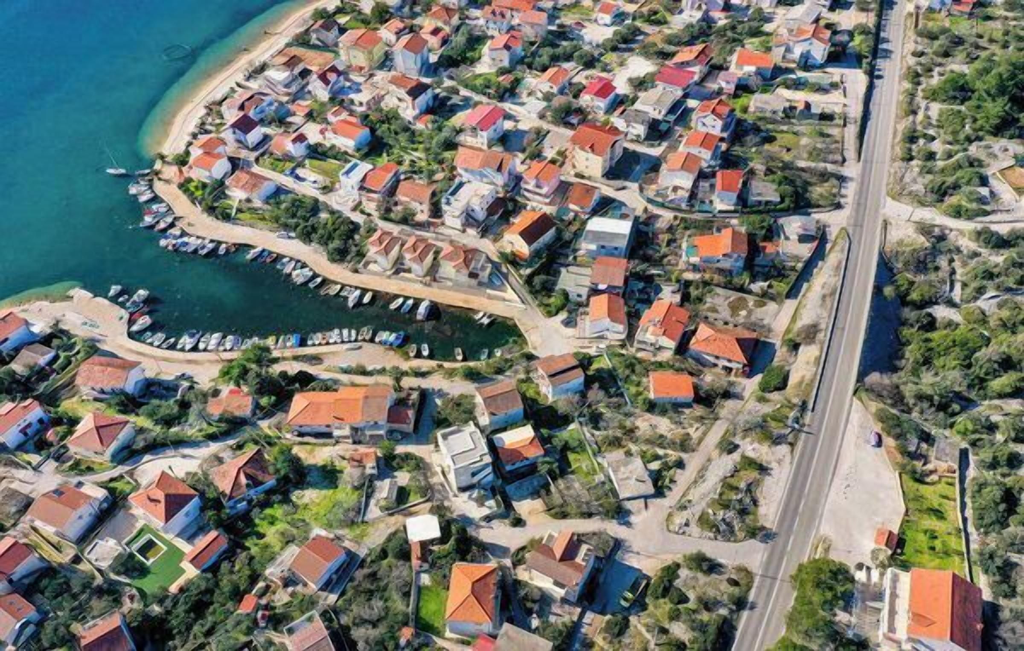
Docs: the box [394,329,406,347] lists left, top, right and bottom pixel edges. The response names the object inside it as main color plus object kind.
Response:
blue boat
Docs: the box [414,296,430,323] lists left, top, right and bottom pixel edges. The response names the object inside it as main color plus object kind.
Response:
white boat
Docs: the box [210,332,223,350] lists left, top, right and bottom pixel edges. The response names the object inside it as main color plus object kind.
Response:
white boat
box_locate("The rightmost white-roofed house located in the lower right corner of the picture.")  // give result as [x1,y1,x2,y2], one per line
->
[869,563,912,651]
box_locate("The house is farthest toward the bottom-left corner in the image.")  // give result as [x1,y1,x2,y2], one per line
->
[0,587,48,650]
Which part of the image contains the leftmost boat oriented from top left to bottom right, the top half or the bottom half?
top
